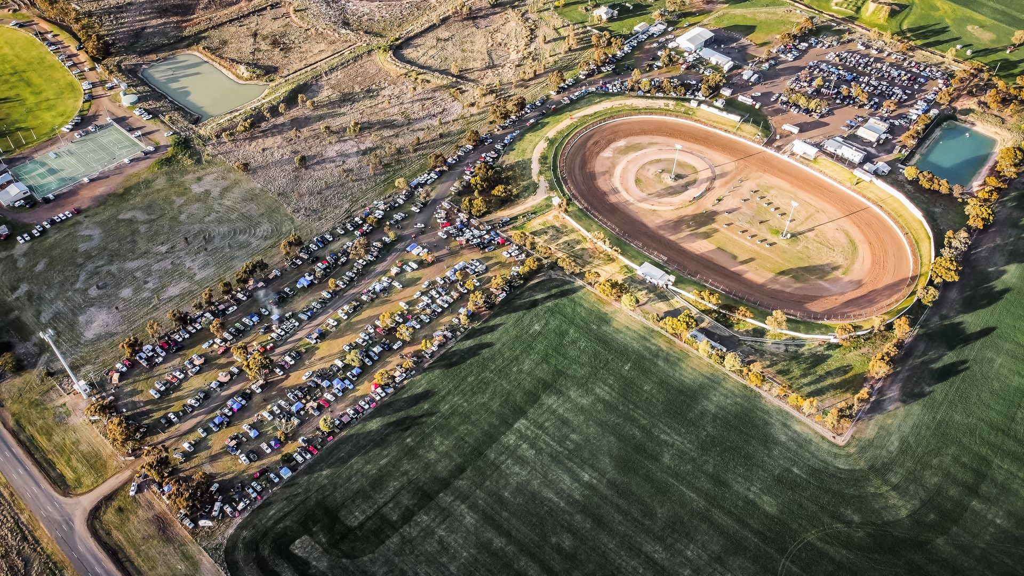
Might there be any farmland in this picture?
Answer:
Yes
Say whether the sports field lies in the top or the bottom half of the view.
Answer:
top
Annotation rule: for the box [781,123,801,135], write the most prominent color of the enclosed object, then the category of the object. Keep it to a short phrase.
white vehicle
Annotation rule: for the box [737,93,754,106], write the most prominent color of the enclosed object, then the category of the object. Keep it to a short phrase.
white vehicle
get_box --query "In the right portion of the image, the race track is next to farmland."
[566,115,913,314]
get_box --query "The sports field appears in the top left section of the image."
[0,26,84,150]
